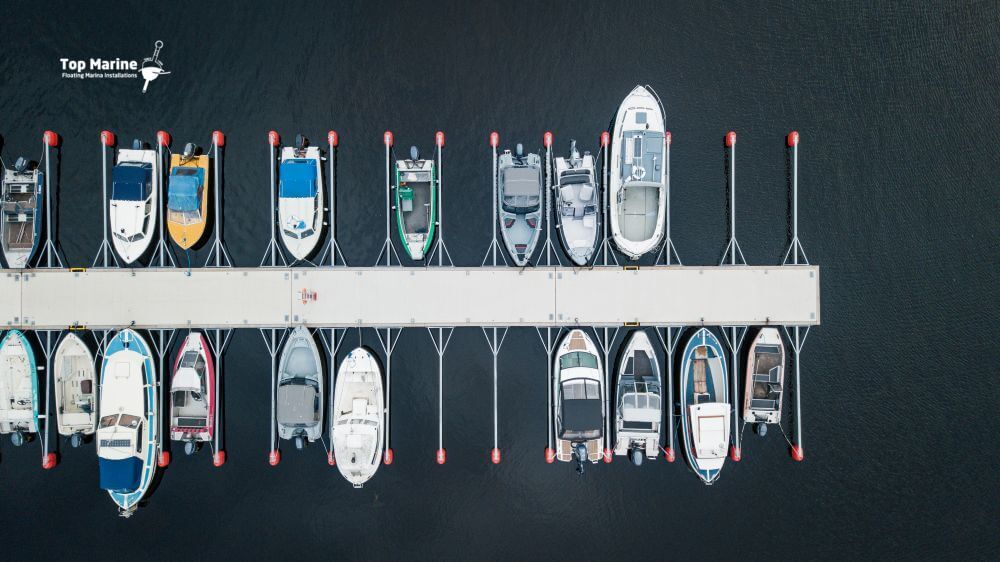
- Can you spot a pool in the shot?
No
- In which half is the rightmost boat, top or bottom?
bottom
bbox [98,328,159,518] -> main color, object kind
white boat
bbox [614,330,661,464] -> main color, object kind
white boat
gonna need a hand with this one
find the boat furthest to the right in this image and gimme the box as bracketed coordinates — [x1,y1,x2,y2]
[742,327,785,436]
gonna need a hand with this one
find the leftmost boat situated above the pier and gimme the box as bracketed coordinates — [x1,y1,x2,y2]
[0,150,46,268]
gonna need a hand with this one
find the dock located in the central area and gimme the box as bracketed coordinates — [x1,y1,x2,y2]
[0,265,819,329]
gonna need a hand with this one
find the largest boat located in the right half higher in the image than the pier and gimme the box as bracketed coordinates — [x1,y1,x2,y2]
[608,85,666,260]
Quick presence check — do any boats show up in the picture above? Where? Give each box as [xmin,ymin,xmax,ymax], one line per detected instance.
[554,329,605,471]
[395,146,438,261]
[0,330,46,445]
[497,143,542,267]
[172,332,220,454]
[680,327,730,486]
[608,85,666,260]
[742,327,785,436]
[98,328,159,518]
[0,150,46,268]
[555,131,601,266]
[278,133,324,261]
[277,326,323,450]
[333,347,386,488]
[53,333,101,447]
[110,139,159,265]
[614,330,661,464]
[167,138,211,250]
